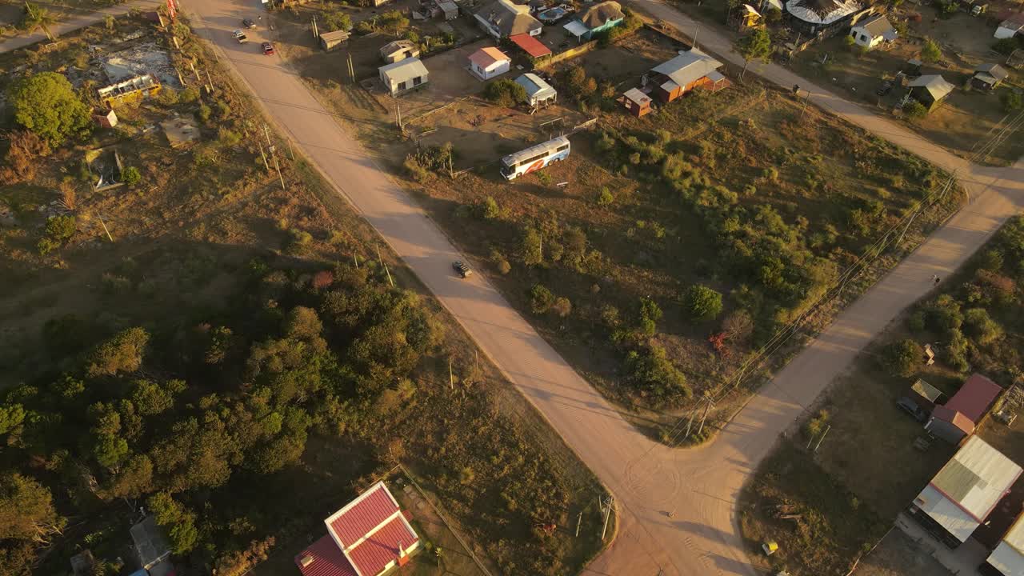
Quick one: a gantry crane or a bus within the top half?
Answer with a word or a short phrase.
bus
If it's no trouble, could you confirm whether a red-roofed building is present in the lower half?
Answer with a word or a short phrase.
Yes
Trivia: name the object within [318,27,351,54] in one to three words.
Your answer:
shed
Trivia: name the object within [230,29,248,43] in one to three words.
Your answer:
vehicle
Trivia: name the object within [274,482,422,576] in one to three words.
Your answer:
house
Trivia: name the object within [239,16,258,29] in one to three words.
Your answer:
vehicle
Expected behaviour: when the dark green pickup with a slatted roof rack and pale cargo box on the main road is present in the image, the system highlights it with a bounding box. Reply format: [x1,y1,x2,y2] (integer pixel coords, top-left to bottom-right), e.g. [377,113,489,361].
[451,258,475,279]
